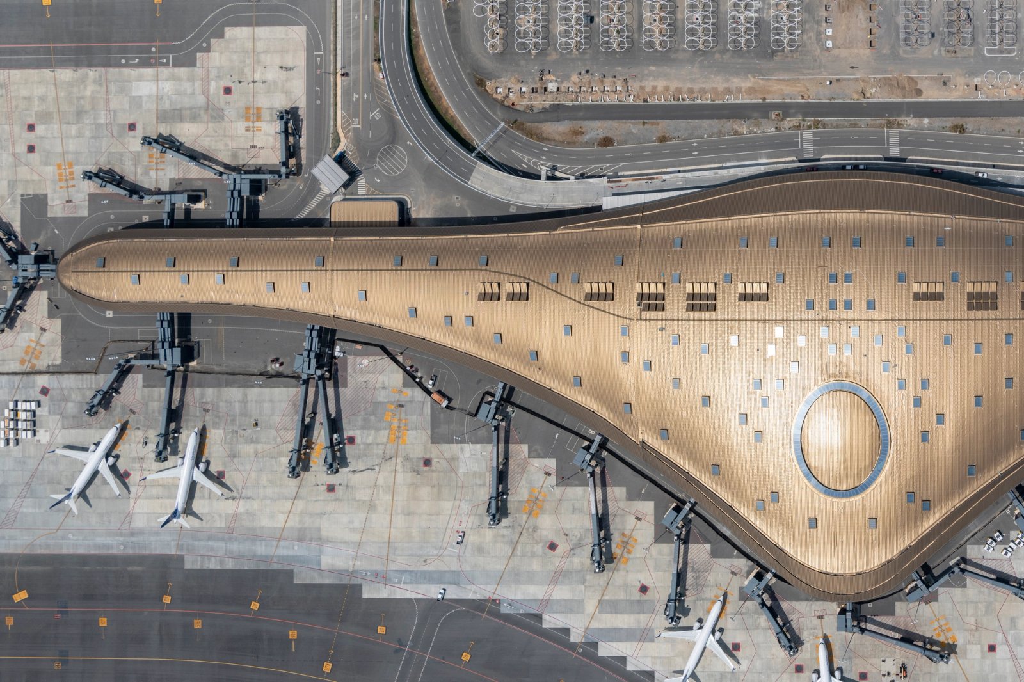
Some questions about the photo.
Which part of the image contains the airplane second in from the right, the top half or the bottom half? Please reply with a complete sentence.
You can find the airplane second in from the right in the bottom half.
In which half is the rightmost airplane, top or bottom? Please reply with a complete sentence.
The rightmost airplane sits in the bottom half of the picture.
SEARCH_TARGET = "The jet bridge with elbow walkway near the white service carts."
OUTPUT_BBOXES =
[907,561,1024,602]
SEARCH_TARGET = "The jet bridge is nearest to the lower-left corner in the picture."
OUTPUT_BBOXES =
[87,312,197,468]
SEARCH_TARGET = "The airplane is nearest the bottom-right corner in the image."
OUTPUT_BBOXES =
[811,638,845,682]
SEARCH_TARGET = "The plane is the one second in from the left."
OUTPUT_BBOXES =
[136,428,224,529]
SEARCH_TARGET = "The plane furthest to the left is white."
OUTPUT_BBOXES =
[43,423,123,515]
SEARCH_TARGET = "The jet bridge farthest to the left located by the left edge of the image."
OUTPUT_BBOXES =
[0,215,58,333]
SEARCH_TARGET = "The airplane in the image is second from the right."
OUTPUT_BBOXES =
[655,596,737,682]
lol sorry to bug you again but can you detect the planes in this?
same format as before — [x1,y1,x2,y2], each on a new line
[43,423,123,515]
[811,638,845,682]
[136,428,224,529]
[655,596,737,682]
